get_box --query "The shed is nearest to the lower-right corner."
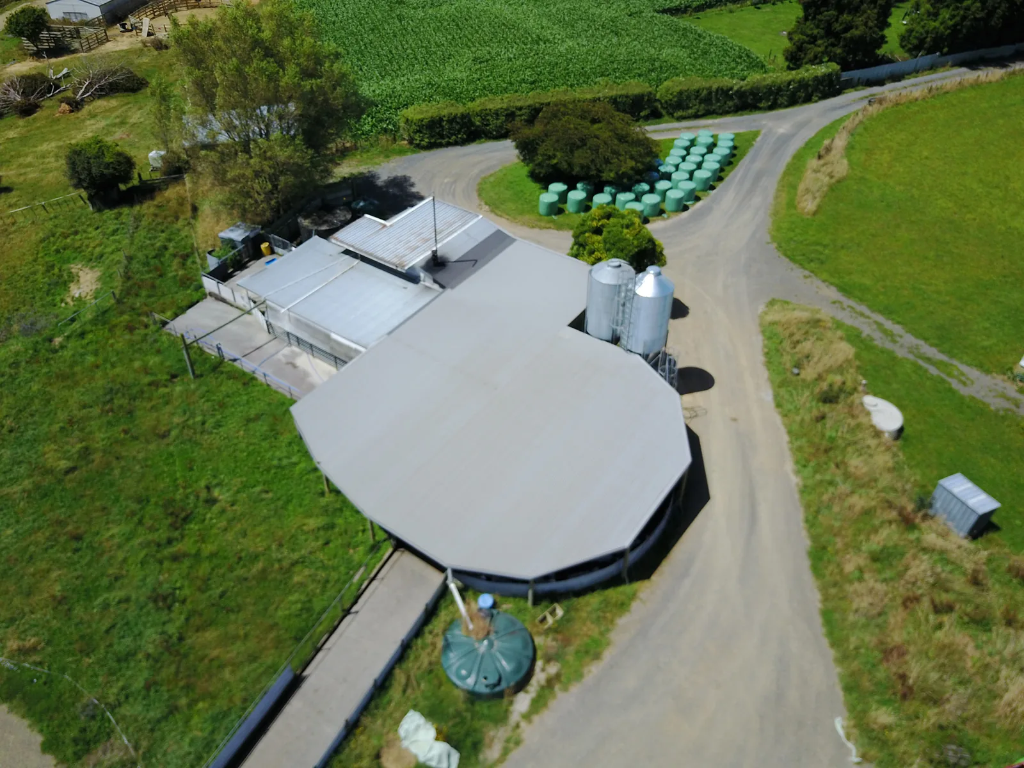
[931,473,1001,535]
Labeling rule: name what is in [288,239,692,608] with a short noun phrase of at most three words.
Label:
shed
